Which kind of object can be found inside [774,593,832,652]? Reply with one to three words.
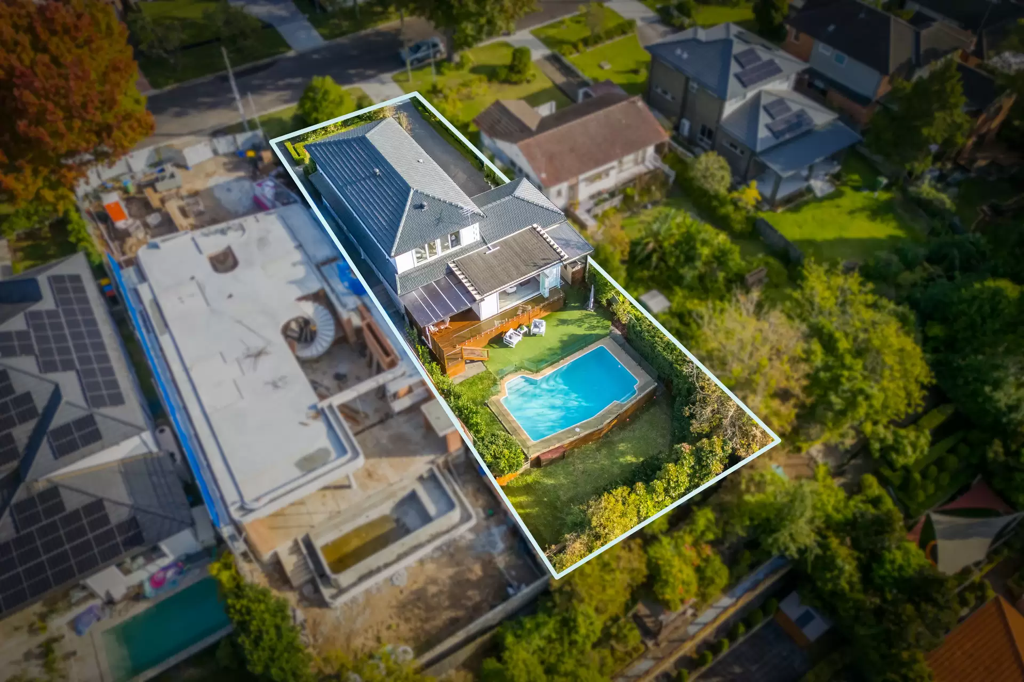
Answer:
shed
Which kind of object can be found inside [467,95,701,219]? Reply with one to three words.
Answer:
house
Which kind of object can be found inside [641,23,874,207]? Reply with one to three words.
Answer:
house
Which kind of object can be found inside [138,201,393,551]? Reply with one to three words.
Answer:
building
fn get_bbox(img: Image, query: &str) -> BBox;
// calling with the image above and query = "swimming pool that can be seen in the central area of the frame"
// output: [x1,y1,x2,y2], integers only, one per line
[488,335,657,464]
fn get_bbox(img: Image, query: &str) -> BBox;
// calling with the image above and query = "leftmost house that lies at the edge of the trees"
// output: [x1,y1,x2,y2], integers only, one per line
[0,250,202,636]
